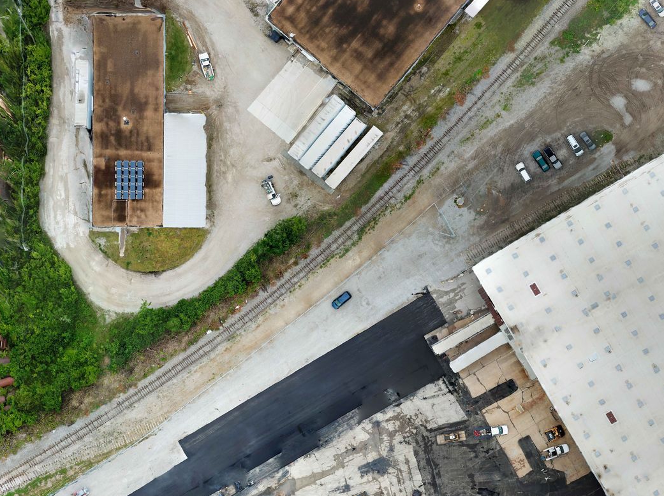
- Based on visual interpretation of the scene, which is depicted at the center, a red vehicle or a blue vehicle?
blue vehicle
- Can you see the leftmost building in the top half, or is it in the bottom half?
top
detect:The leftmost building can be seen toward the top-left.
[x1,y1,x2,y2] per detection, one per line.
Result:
[91,14,171,229]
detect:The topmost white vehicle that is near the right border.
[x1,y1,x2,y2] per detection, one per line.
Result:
[648,0,664,17]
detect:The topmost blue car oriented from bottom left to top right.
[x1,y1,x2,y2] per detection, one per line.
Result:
[330,290,352,308]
